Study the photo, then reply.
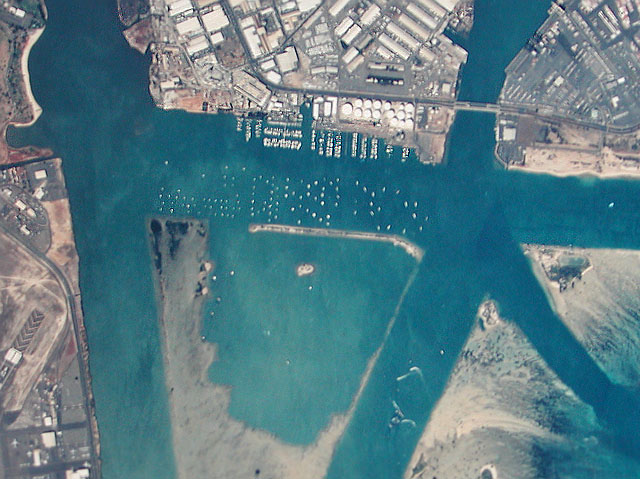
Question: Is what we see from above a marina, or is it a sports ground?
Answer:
marina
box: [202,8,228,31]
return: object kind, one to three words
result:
building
